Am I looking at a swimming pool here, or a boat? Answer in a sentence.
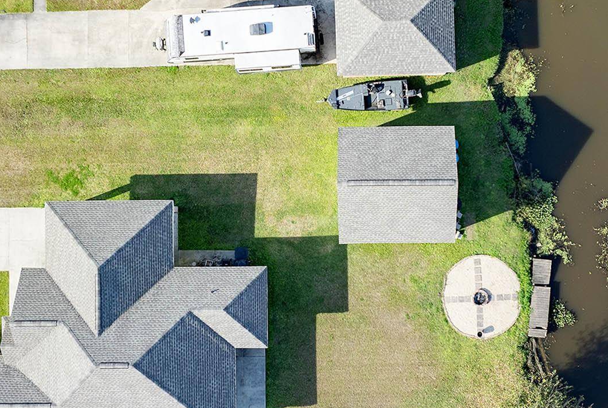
I can see a boat in this picture.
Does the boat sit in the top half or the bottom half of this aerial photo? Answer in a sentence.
The boat is in the top half of the image.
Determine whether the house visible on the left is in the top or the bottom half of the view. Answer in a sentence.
The bottom half of the photo is where the house visible on the left is.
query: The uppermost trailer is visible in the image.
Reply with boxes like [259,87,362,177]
[155,4,325,77]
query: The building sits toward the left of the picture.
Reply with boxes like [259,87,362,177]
[0,200,269,408]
